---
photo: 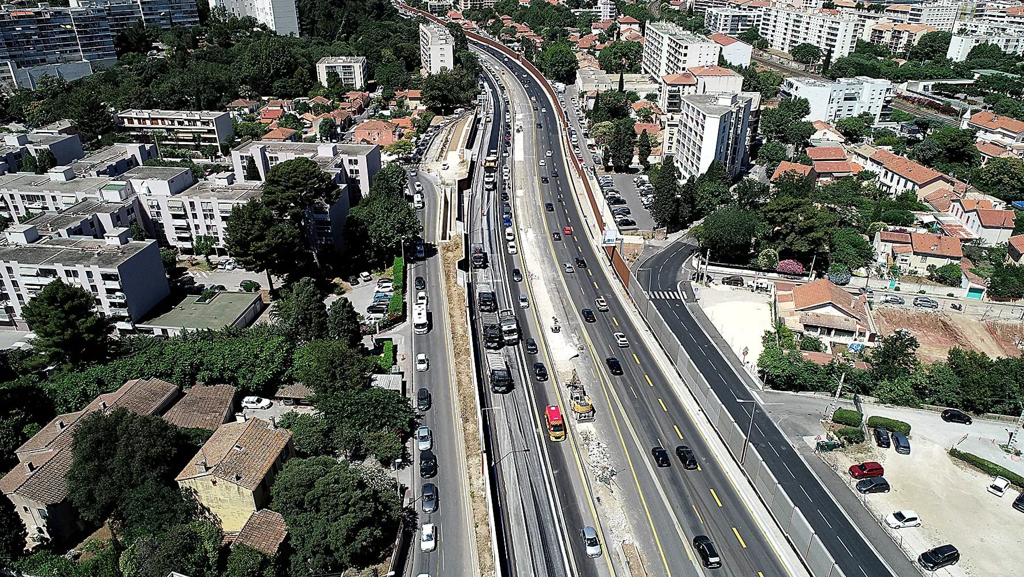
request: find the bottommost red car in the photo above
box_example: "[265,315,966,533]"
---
[846,459,886,479]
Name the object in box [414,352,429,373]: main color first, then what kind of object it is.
white car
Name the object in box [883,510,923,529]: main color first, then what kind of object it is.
white car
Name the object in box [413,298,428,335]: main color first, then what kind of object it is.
white camper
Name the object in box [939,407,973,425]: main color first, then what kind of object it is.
black car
